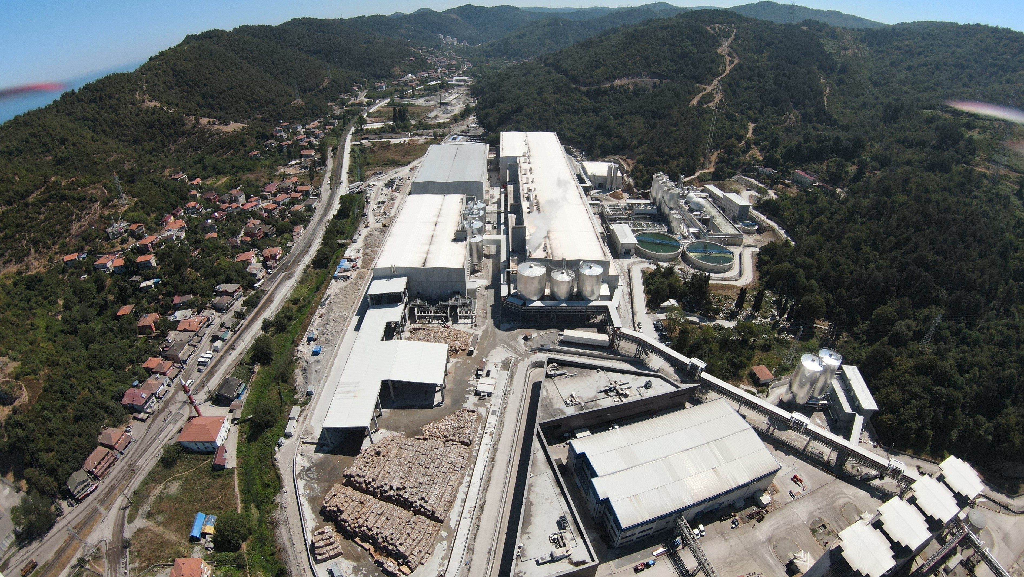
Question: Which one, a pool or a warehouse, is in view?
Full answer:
Looking from above, you can make out a warehouse.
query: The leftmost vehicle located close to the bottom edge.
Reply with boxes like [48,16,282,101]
[16,556,35,575]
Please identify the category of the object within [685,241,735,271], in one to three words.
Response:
storage tank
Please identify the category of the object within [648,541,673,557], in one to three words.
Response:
vehicle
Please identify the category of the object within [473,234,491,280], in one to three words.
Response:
silo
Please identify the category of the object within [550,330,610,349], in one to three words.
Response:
building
